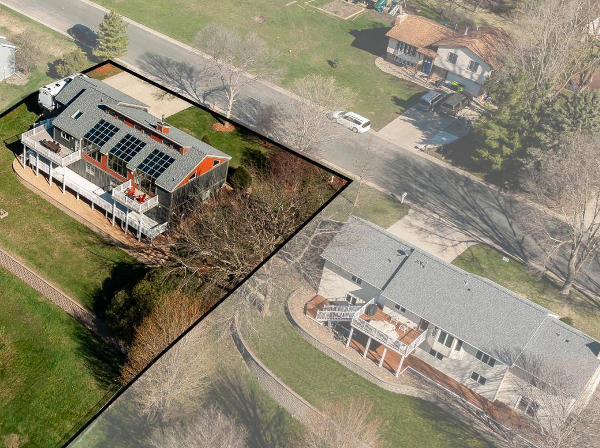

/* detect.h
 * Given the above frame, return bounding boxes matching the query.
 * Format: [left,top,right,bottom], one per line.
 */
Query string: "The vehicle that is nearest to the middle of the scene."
[330,108,370,130]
